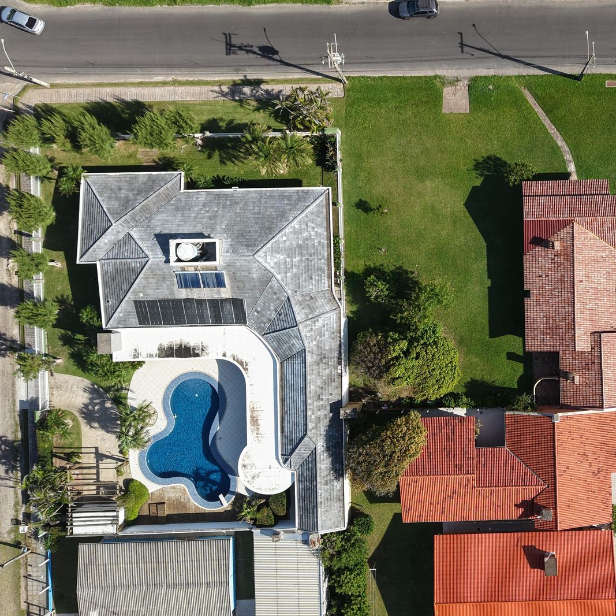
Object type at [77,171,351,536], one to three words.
house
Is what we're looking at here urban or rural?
urban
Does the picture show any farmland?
No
